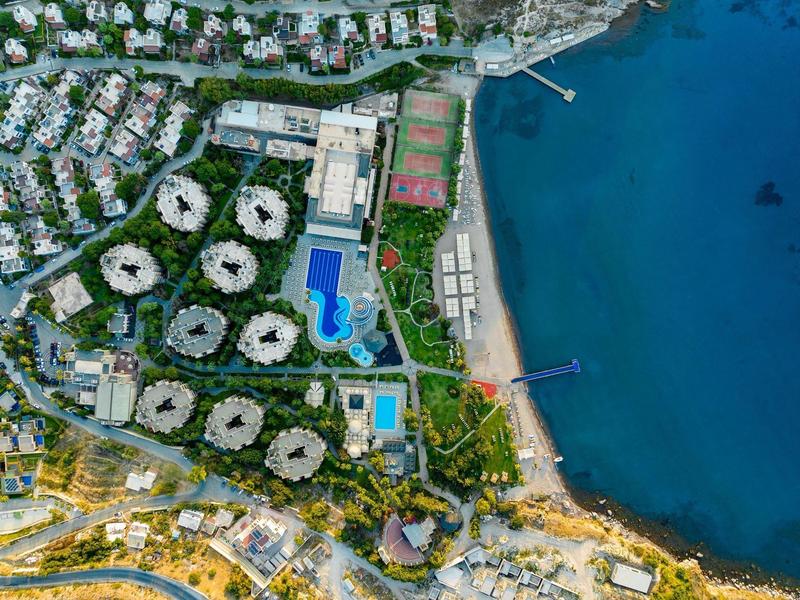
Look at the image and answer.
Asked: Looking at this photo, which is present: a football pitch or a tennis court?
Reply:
tennis court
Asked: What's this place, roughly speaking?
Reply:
residential area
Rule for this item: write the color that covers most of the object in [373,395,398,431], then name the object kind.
blue swimming pool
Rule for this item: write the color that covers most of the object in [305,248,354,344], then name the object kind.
blue swimming pool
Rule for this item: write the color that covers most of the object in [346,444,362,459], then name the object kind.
white umbrella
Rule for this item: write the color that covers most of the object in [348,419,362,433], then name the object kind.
white umbrella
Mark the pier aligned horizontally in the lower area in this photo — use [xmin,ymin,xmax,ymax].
[512,360,580,384]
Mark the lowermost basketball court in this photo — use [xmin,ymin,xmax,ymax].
[388,172,450,208]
